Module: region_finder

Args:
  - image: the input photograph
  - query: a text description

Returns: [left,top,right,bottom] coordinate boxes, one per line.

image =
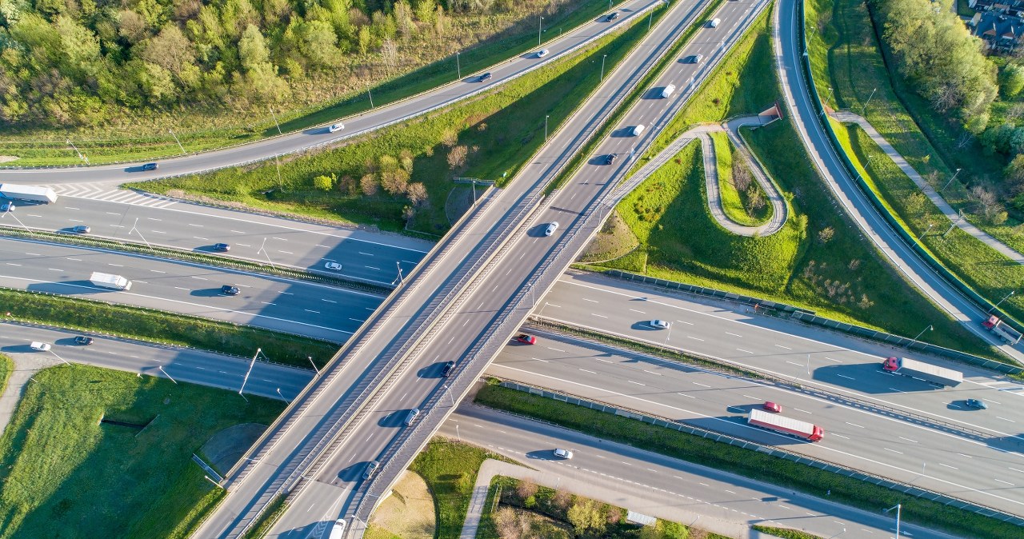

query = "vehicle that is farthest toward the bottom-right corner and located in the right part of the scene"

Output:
[966,398,986,410]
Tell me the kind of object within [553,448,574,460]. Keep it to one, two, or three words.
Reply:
vehicle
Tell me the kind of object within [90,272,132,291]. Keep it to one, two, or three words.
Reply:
vehicle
